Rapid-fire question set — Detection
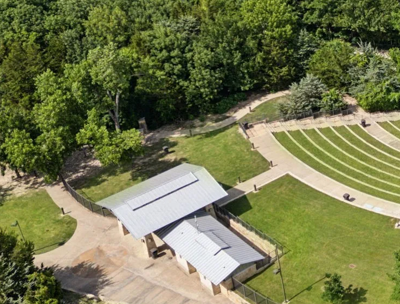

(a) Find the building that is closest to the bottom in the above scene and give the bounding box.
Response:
[159,212,266,303]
